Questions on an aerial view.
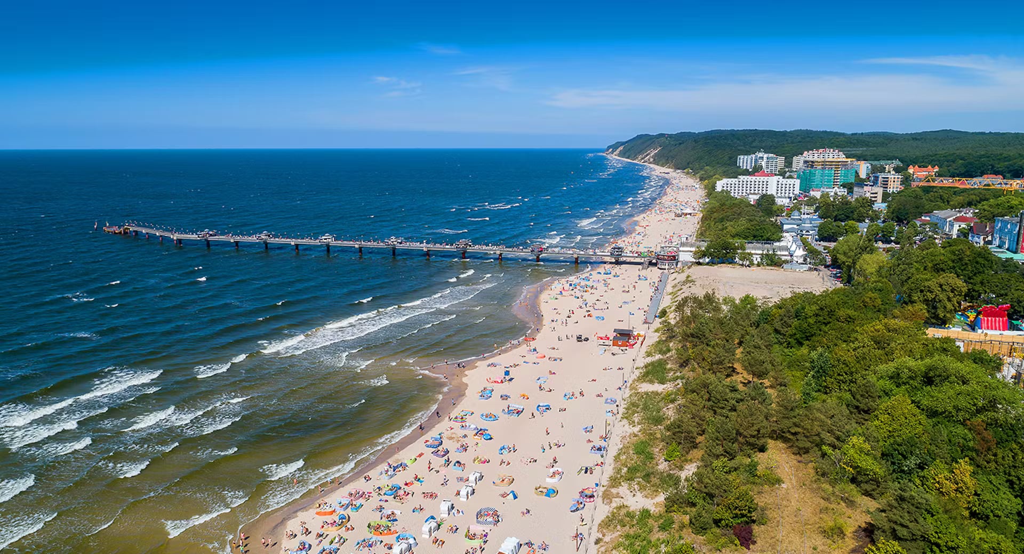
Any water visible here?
Yes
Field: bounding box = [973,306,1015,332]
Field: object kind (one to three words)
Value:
building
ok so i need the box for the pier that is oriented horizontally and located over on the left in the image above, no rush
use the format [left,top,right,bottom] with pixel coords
[114,224,657,263]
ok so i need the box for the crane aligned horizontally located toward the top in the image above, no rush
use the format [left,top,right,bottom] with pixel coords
[913,176,1024,198]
